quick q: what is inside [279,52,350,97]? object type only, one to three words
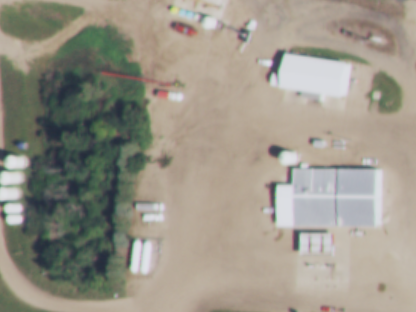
building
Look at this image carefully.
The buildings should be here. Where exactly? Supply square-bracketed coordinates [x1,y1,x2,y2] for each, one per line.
[279,52,350,97]
[276,168,381,228]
